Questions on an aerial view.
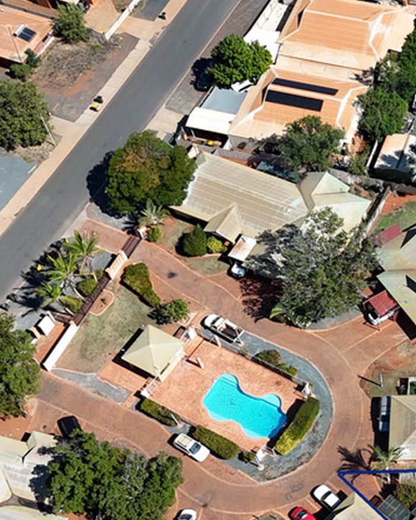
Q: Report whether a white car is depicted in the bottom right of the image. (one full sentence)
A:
Yes, a white car appears in the bottom right of the image.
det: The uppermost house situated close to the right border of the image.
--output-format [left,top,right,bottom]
[277,0,416,79]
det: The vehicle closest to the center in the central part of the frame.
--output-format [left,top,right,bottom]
[226,256,249,284]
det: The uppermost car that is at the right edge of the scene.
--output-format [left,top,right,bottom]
[359,305,397,327]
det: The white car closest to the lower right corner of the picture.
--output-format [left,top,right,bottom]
[308,482,344,515]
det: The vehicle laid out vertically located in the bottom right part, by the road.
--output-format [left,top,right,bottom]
[374,394,391,436]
